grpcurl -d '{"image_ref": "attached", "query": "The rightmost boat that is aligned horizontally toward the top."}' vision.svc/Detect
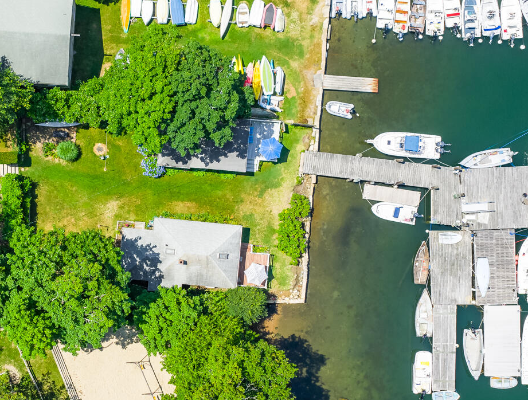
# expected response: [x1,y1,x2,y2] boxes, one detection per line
[459,147,524,166]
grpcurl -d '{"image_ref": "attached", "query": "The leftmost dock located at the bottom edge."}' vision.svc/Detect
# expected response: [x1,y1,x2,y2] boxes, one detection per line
[431,304,457,391]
